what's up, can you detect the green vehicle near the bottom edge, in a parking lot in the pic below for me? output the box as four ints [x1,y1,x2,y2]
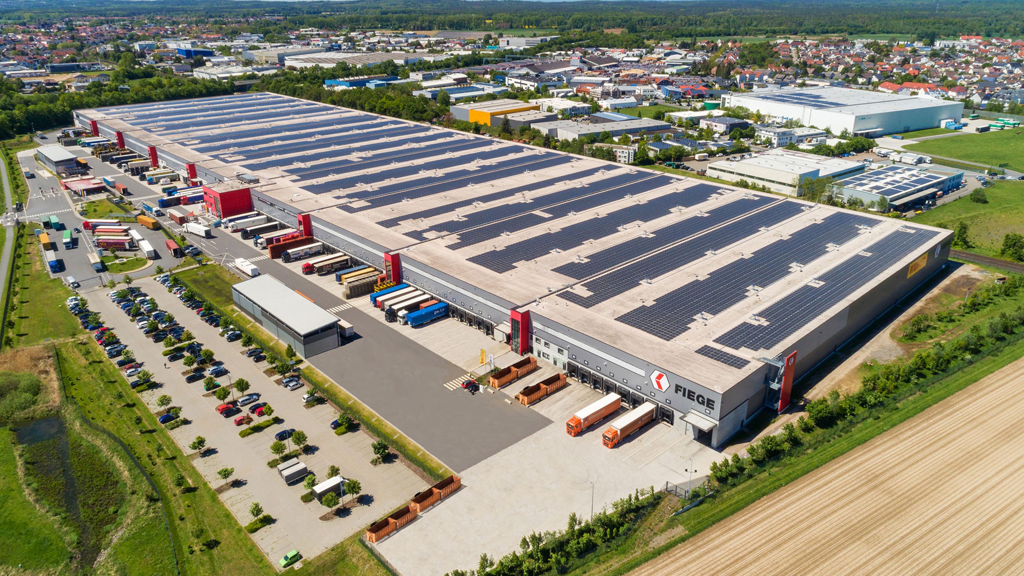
[277,548,303,568]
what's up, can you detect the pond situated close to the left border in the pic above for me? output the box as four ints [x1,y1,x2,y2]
[13,415,89,531]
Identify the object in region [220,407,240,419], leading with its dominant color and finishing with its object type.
black vehicle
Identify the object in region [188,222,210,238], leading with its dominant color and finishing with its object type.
white vehicle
